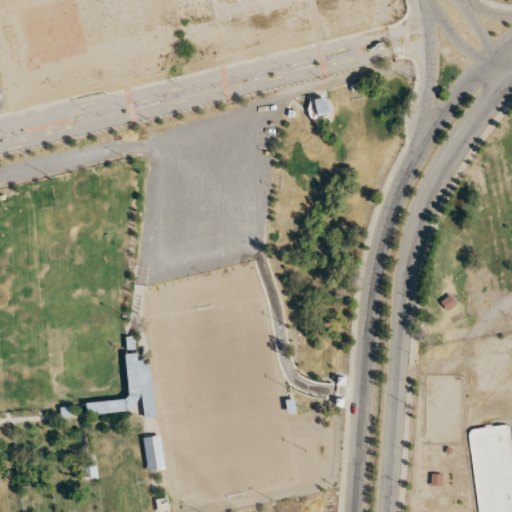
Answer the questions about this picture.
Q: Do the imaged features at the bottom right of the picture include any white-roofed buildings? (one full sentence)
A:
Yes, you'll find a white-roofed building at the bottom right of the picture.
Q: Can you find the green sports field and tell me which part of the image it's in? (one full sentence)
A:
You can find the green sports field in the left area of the picture.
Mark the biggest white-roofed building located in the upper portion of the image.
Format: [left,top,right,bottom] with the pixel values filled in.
[310,97,334,122]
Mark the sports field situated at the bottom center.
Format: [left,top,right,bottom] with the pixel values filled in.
[146,264,298,510]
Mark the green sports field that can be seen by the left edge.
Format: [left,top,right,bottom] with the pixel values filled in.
[0,160,131,414]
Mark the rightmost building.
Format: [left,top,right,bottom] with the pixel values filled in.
[468,424,512,512]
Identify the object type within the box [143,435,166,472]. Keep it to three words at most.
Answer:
building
